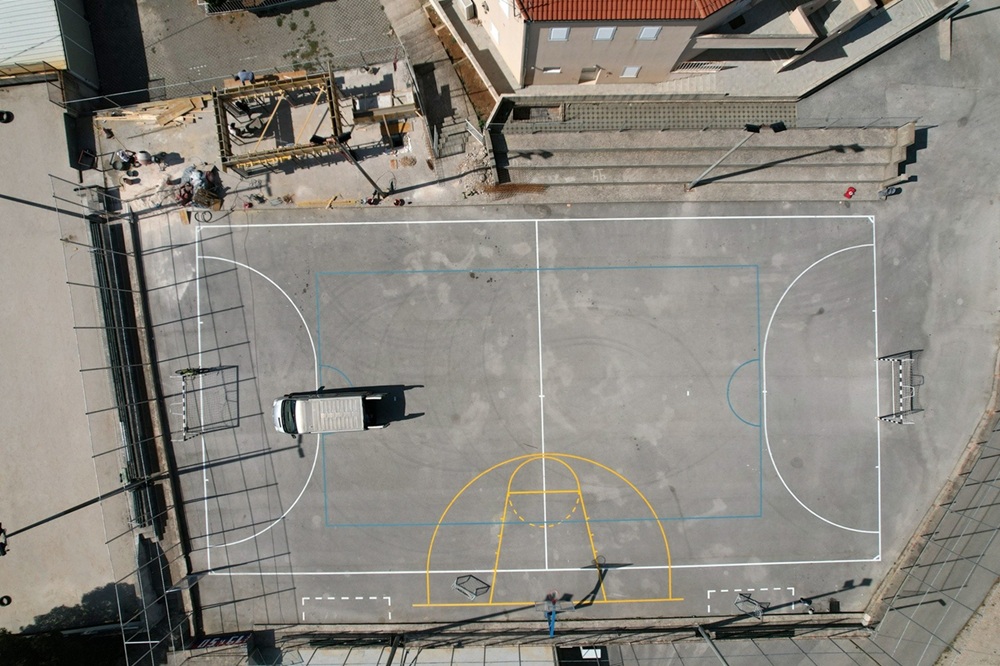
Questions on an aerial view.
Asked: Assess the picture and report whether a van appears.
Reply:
Yes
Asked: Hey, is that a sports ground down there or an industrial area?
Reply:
sports ground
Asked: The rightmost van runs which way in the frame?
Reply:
from left to right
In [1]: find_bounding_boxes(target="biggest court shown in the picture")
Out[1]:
[192,211,884,620]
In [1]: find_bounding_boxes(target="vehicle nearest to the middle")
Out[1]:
[271,389,390,439]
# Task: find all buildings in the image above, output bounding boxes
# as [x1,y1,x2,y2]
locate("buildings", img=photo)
[0,0,99,90]
[471,0,802,94]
